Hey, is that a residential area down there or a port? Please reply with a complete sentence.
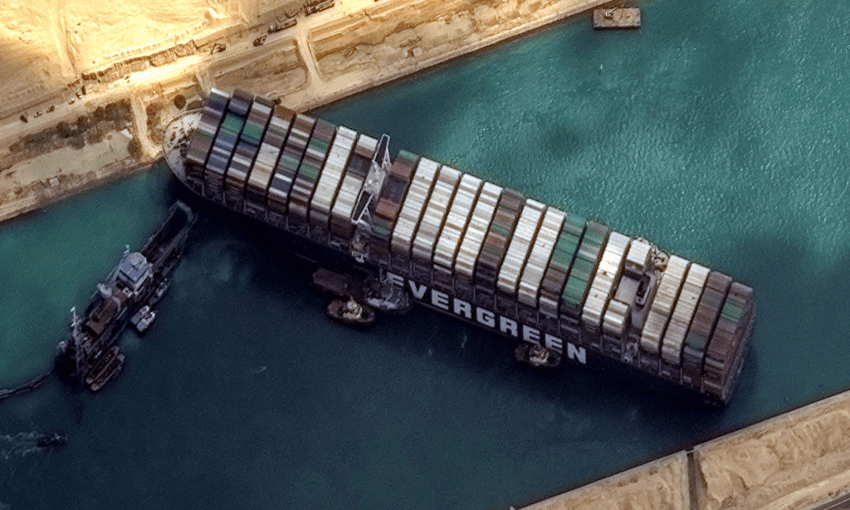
The picture captures a port.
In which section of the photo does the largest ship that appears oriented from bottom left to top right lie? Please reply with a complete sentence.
The largest ship that appears oriented from bottom left to top right sits in the left section of the image.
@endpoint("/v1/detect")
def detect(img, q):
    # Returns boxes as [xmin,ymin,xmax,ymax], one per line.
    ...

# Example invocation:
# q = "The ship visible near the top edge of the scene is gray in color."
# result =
[594,9,640,29]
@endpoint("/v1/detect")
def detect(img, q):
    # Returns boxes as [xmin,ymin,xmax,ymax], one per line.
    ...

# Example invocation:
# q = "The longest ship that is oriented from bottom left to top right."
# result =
[63,201,193,377]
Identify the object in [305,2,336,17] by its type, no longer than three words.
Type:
vehicle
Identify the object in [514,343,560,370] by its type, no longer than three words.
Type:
boat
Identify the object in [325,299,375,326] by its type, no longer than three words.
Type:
boat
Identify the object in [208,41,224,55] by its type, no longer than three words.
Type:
work vehicle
